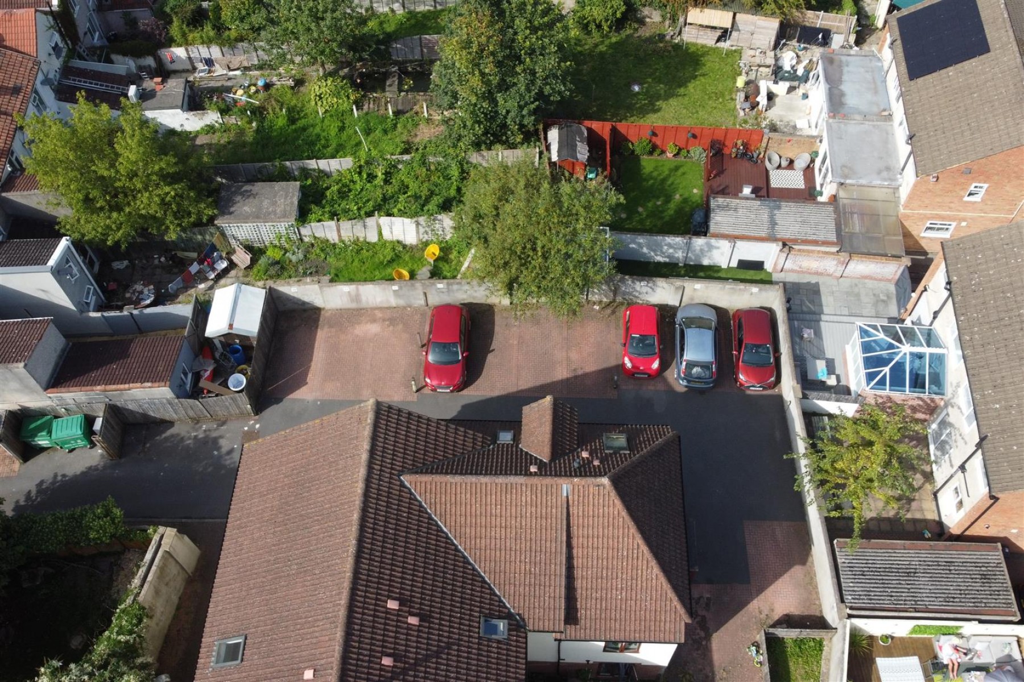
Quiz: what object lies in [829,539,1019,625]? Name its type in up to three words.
building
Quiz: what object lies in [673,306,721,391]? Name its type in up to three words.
car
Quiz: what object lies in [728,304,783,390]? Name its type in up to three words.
car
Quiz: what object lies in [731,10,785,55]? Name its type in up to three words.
shed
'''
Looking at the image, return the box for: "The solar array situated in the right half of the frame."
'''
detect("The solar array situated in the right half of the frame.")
[896,0,990,79]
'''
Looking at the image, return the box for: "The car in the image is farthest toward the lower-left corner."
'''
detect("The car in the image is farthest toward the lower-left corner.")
[420,303,472,392]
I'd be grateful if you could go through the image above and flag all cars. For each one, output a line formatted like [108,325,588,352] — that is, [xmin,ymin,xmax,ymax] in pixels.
[673,306,721,391]
[420,303,472,392]
[728,304,783,390]
[618,300,665,377]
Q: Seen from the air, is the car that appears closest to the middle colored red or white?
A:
red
